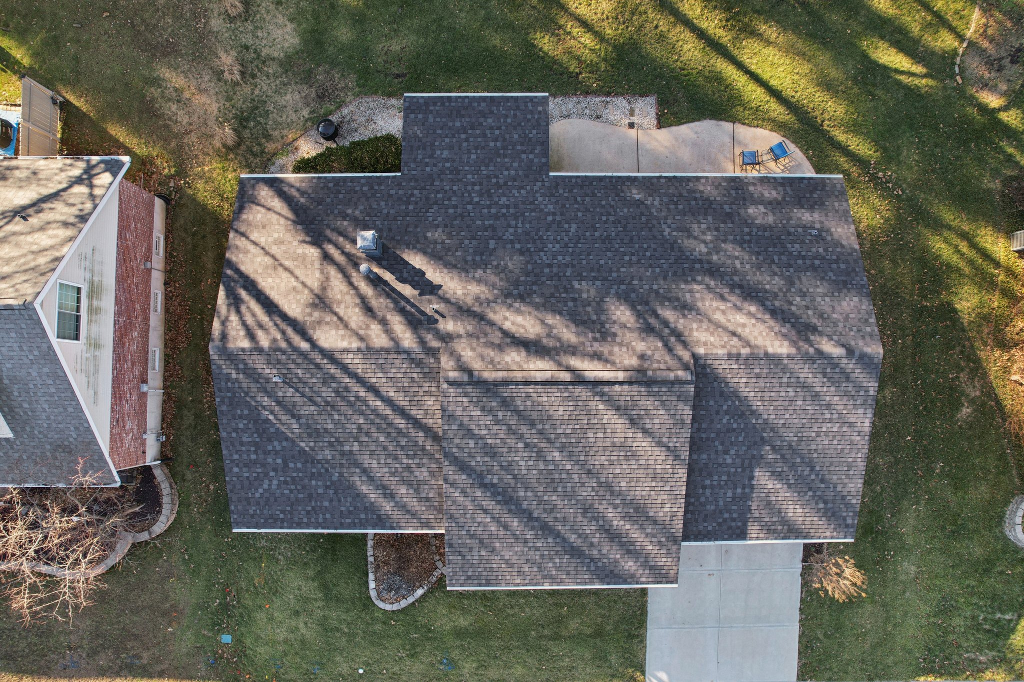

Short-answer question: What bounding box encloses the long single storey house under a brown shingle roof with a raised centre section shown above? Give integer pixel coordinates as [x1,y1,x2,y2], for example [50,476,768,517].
[209,92,883,592]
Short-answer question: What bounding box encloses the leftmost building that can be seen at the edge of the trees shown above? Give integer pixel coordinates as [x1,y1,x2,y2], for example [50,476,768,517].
[0,152,178,490]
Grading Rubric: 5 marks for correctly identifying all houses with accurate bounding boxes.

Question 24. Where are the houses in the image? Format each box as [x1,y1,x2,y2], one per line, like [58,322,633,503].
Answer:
[209,92,883,592]
[0,152,178,490]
